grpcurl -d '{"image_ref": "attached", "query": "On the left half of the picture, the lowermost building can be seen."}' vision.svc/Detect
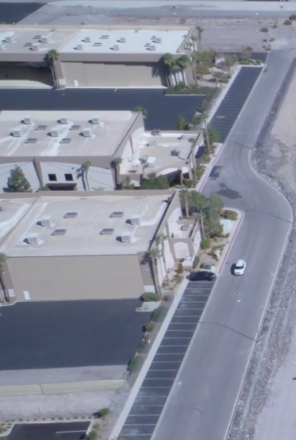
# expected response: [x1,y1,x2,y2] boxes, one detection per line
[0,189,184,301]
